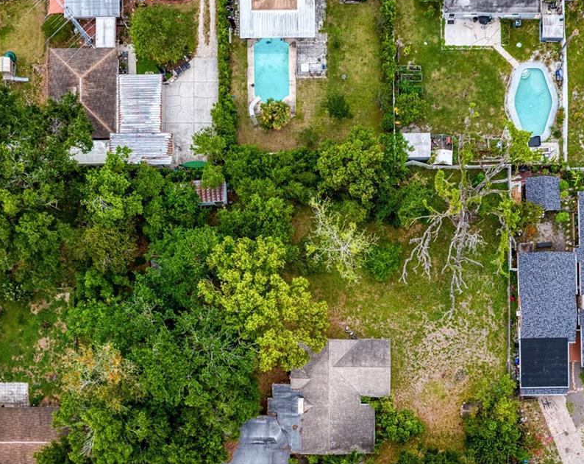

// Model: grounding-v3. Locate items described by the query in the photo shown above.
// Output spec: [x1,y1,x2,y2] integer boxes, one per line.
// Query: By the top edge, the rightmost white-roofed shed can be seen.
[539,15,563,44]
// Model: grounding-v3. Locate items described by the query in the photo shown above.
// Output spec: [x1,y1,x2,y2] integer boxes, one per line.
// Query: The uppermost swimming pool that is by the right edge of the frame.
[506,60,559,143]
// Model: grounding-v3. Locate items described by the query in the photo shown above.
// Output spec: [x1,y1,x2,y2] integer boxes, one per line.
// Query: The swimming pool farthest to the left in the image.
[248,38,295,116]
